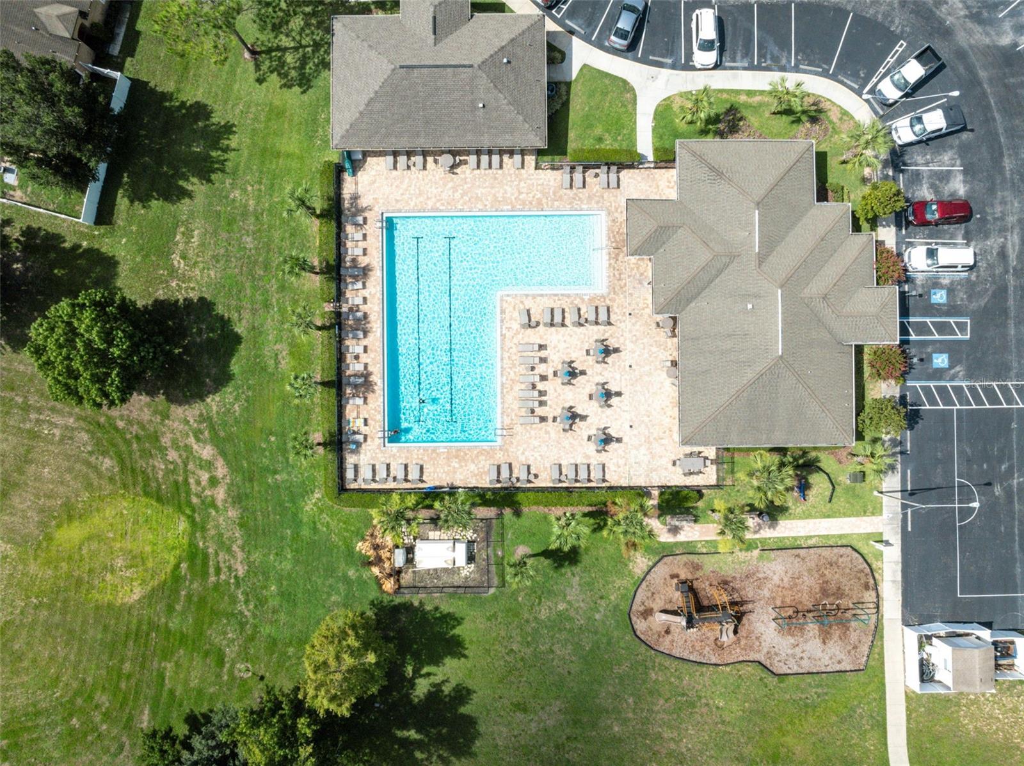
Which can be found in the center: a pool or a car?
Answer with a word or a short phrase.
pool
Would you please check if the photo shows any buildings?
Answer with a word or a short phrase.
Yes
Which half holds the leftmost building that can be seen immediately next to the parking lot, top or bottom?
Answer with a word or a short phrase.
top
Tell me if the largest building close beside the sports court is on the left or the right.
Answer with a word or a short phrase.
right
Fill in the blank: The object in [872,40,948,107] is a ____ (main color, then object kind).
white truck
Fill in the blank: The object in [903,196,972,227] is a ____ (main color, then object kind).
red car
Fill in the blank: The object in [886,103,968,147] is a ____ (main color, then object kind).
white truck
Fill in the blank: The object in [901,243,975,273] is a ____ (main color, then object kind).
white car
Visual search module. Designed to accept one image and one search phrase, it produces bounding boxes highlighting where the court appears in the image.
[954,409,1024,625]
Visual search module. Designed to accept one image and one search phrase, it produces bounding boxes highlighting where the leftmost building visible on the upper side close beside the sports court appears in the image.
[625,139,900,447]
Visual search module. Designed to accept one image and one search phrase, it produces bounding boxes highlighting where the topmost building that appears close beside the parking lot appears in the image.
[330,0,547,152]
